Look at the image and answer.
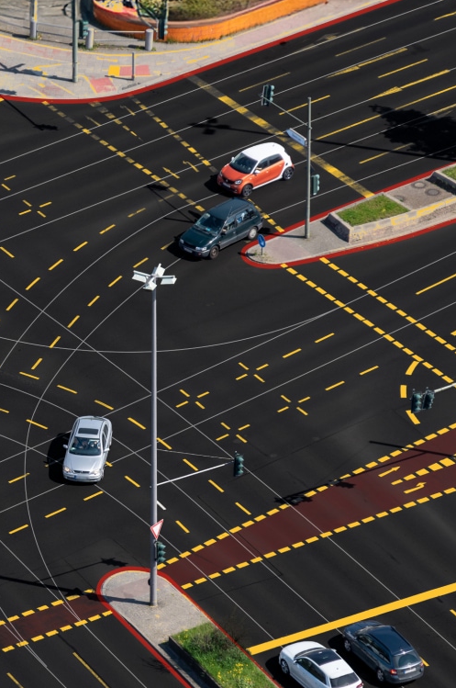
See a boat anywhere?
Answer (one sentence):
No, there is no boat in the image.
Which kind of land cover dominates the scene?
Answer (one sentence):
For the most part, this view shows paved ground.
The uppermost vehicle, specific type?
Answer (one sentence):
It looks like the uppermost vehicle is a car.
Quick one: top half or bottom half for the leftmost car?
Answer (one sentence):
You can find the leftmost car in the bottom half.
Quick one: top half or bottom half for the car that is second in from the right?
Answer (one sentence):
The car that is second in from the right is in the bottom half of the image.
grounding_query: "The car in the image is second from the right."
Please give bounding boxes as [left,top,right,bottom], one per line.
[281,644,362,688]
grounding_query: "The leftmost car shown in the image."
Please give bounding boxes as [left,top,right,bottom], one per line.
[61,418,111,481]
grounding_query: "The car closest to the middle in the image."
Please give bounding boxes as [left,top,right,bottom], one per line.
[179,198,262,262]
